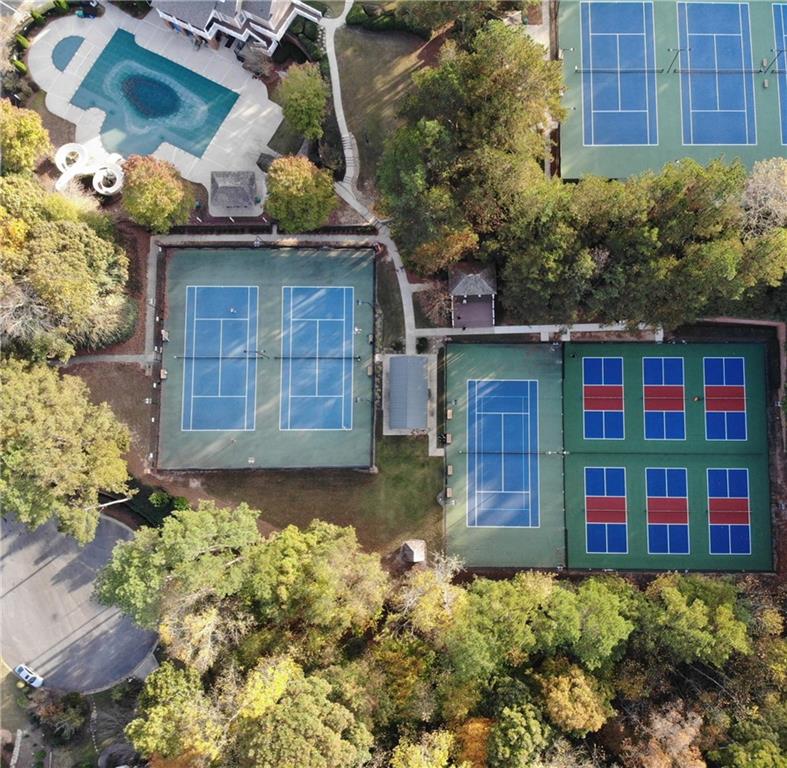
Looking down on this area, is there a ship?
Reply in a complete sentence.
No, I find no ship anywhere in the image.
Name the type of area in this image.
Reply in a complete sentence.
What you see here is a sports ground.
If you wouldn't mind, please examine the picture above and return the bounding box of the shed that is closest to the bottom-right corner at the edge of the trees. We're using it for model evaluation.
[402,538,425,563]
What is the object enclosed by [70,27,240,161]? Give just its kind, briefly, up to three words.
swimming pool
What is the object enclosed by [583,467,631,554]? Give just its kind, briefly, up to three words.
sports court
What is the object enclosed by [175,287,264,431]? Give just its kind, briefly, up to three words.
tennis court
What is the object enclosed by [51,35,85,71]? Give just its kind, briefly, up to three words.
swimming pool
